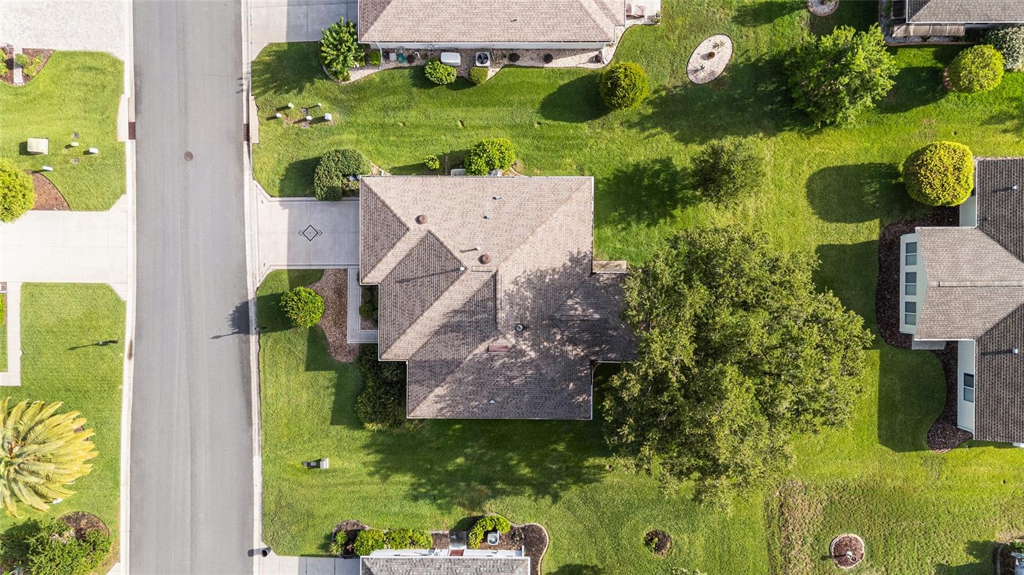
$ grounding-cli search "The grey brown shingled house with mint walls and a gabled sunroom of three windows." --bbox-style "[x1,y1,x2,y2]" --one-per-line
[900,157,1024,444]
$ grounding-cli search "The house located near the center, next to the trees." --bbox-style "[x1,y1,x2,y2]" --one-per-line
[360,174,639,421]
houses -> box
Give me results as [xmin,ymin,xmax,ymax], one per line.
[900,157,1024,444]
[877,0,1024,48]
[360,174,639,421]
[358,0,628,69]
[359,543,530,575]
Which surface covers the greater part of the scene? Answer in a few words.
grass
